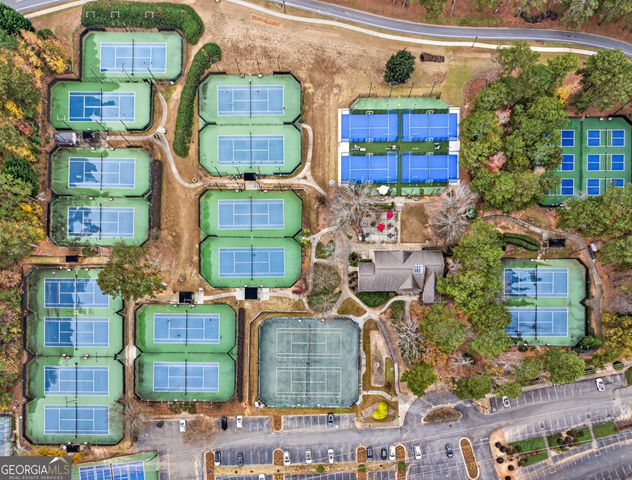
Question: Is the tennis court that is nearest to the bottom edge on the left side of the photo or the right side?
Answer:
left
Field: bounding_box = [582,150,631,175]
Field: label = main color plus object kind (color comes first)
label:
green sports court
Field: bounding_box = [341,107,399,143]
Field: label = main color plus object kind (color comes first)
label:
blue sports court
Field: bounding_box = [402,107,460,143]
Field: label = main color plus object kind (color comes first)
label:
blue sports court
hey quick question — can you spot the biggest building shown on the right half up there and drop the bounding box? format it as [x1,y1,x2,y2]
[357,250,445,303]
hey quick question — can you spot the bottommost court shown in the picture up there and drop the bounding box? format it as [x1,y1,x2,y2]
[66,452,157,480]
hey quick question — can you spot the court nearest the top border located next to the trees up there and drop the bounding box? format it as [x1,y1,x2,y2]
[83,30,182,80]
